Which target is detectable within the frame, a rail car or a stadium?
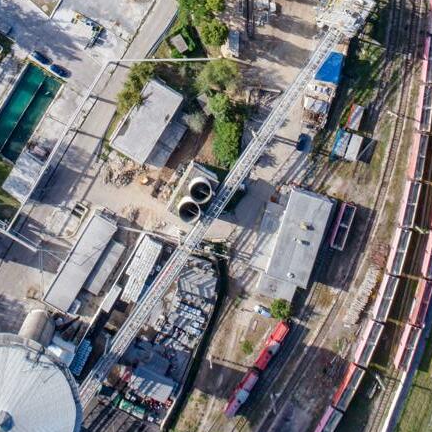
rail car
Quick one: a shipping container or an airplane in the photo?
shipping container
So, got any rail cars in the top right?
Yes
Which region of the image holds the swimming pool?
top left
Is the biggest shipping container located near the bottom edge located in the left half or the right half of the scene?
left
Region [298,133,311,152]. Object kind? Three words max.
vehicle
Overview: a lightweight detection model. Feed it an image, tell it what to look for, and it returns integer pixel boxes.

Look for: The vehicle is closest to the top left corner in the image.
[32,51,48,64]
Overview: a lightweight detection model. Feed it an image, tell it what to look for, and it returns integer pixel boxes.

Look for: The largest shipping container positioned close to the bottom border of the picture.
[119,394,144,420]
